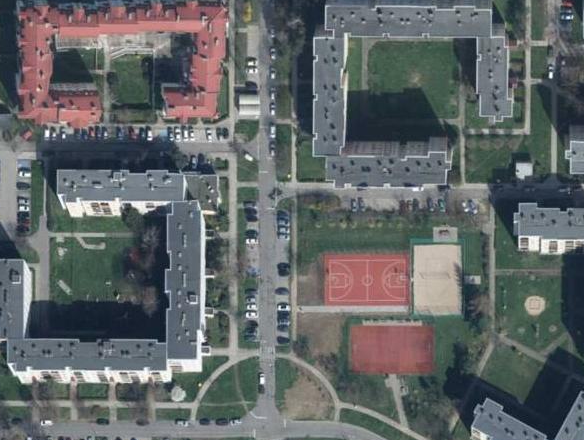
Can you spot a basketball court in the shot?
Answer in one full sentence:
Yes, there is a basketball court in the image.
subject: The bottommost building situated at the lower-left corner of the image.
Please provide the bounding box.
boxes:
[6,339,169,385]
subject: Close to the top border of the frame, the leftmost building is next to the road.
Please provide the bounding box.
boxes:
[16,0,229,132]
